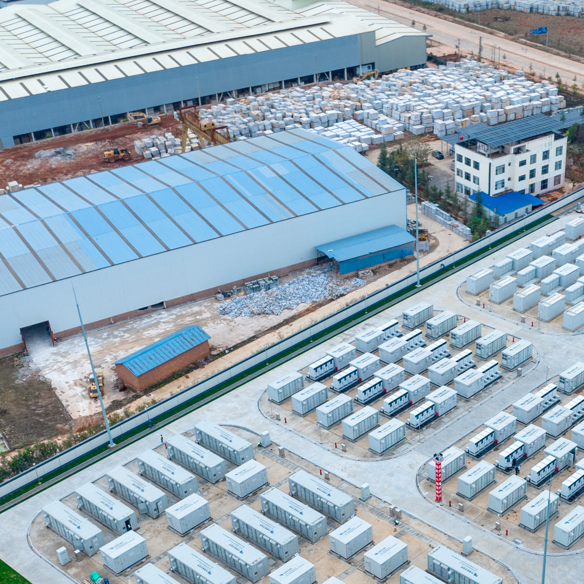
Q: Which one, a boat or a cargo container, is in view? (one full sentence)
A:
The image shows a cargo container.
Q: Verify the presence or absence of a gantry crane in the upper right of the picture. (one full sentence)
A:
No, no gantry crane appears in the upper right of the picture.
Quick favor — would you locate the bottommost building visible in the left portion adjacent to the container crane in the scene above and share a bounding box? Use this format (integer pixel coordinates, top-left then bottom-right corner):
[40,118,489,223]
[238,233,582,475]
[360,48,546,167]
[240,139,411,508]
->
[0,127,409,358]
